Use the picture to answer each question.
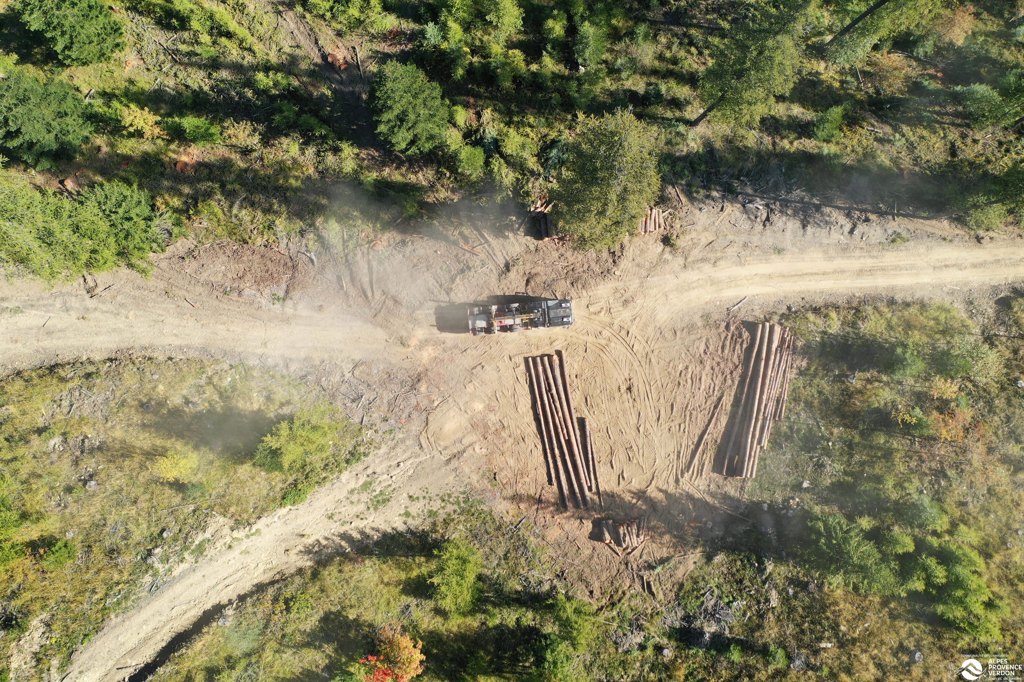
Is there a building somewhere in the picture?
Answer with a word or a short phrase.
No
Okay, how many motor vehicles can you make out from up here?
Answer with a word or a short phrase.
one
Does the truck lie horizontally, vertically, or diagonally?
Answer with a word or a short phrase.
horizontally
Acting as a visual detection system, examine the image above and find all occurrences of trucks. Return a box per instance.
[469,295,576,335]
